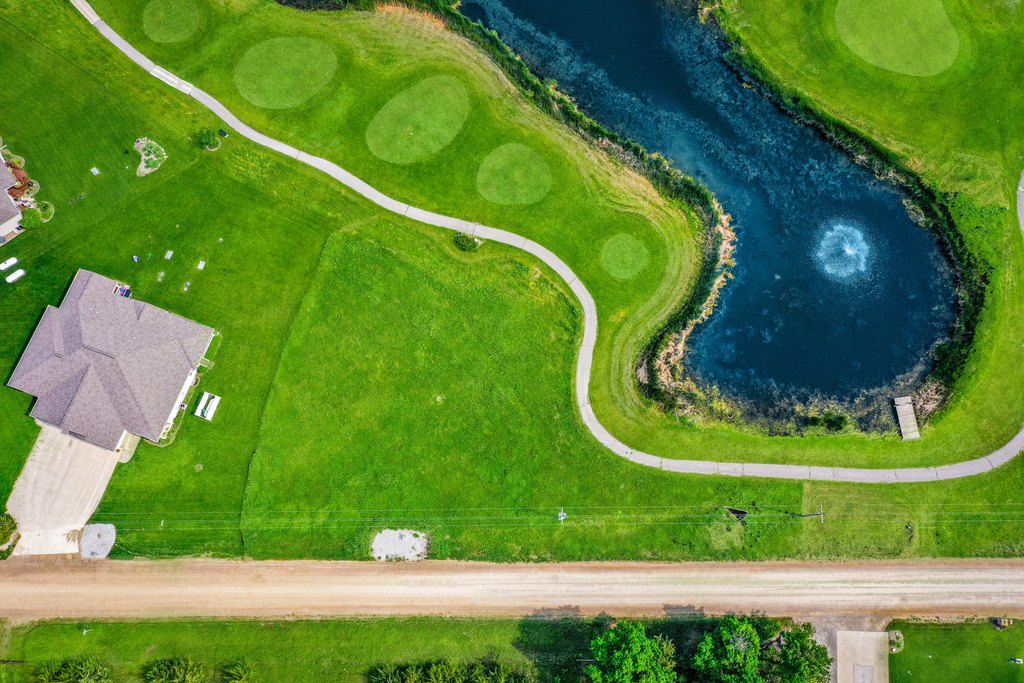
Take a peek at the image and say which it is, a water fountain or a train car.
water fountain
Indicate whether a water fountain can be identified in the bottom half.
No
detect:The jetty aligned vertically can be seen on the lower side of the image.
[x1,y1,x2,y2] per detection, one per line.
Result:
[892,397,918,438]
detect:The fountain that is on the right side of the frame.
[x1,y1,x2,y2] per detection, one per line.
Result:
[797,213,889,285]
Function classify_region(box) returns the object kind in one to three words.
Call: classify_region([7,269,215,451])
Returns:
house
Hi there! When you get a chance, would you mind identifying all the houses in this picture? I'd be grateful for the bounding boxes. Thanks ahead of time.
[0,156,30,238]
[7,269,215,451]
